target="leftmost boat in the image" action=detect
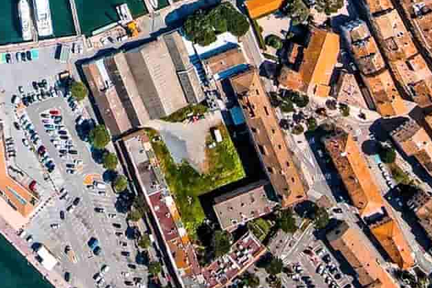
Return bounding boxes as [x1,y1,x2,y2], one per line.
[19,0,32,41]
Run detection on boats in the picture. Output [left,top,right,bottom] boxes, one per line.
[118,3,131,24]
[19,0,32,41]
[33,0,53,39]
[151,0,159,8]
